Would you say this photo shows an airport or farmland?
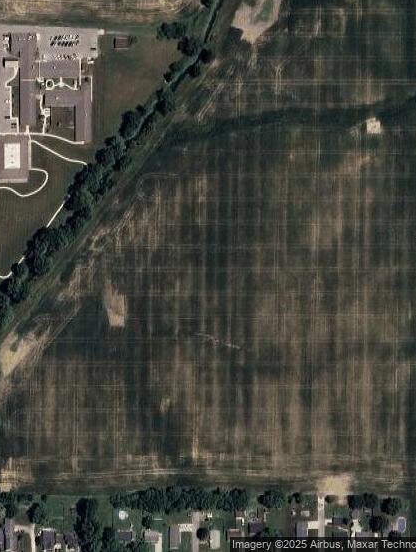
farmland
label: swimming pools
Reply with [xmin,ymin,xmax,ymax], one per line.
[117,510,127,520]
[395,516,406,532]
